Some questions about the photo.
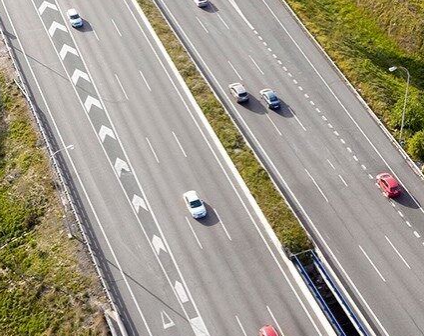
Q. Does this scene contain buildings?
No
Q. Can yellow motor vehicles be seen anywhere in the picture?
No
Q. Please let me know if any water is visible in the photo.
No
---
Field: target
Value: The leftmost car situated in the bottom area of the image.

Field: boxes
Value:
[183,189,208,219]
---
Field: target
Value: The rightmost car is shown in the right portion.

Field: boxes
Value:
[378,174,406,199]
